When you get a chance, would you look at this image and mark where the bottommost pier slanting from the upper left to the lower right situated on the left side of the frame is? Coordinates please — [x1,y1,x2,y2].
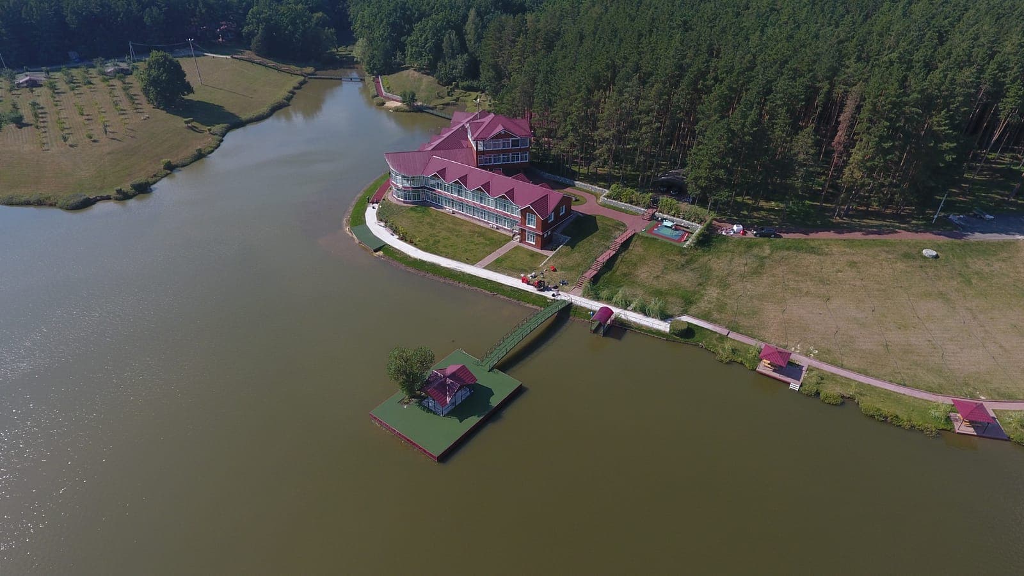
[351,225,386,256]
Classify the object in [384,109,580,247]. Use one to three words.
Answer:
building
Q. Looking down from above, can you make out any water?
Yes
